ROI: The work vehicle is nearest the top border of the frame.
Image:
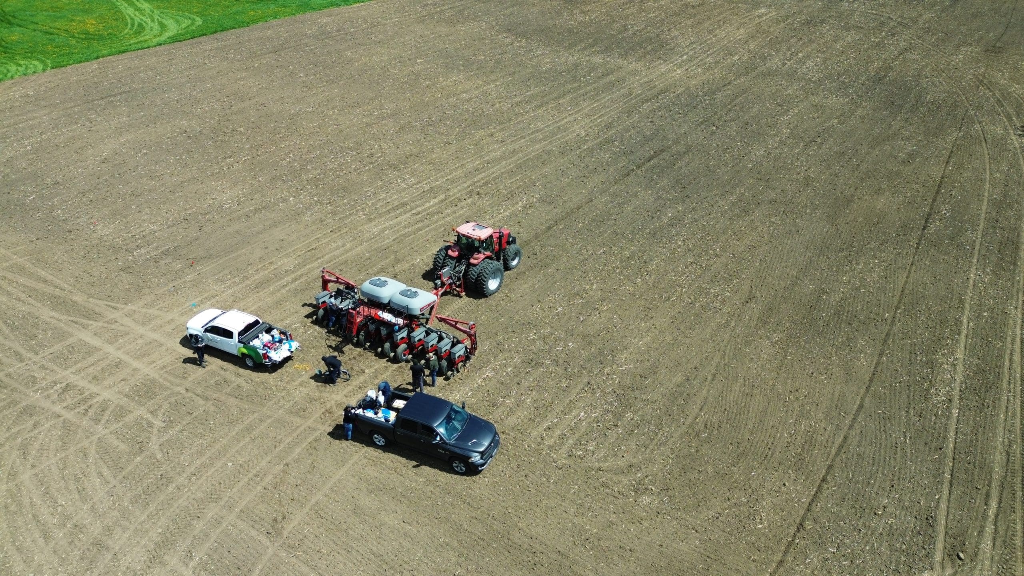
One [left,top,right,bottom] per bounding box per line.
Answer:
[433,218,525,297]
